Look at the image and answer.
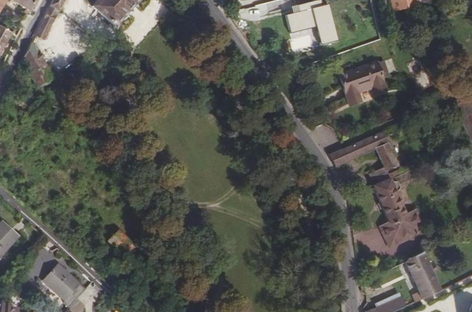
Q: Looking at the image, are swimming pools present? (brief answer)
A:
No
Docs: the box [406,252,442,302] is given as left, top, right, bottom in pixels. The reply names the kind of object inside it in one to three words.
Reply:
house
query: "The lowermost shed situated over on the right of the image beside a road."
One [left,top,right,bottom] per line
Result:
[365,292,406,312]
